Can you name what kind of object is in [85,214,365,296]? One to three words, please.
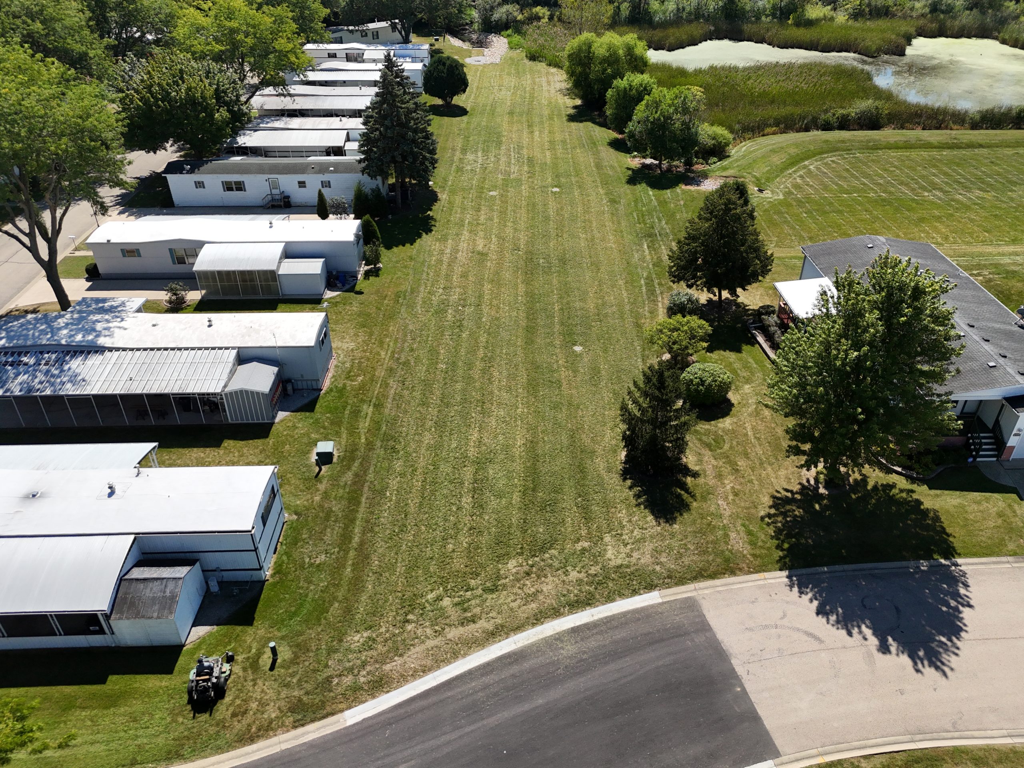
house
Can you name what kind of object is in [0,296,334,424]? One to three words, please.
house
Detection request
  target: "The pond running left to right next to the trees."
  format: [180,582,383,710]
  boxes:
[641,40,1024,118]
